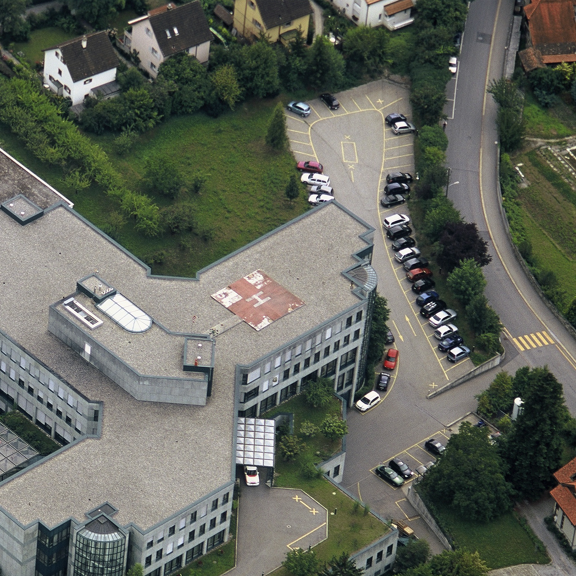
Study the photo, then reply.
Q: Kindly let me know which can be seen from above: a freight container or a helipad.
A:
helipad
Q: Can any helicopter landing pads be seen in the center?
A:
Yes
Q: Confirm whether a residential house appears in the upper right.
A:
Yes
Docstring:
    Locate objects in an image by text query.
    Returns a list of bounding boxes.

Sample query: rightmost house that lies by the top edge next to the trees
[509,0,576,80]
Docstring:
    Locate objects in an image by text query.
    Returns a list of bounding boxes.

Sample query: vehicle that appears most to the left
[245,469,260,489]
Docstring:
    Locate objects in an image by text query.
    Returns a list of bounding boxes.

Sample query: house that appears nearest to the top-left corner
[45,31,120,101]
